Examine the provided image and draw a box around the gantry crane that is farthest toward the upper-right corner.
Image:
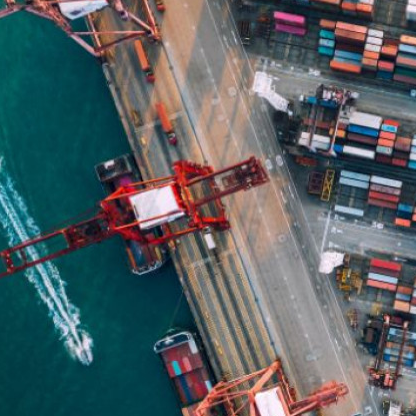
[307,83,354,164]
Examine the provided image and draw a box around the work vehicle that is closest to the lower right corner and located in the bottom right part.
[377,397,390,416]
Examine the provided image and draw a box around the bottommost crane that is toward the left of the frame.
[0,155,272,284]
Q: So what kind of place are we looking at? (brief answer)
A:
port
